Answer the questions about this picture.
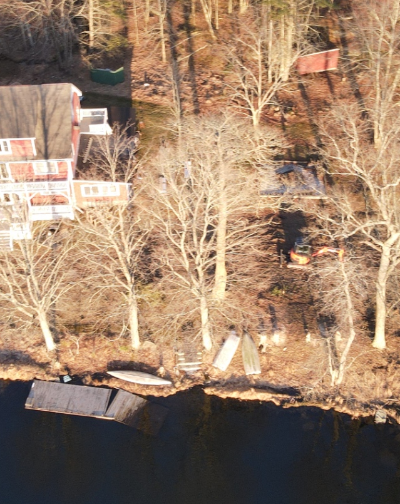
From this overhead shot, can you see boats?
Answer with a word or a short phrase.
Yes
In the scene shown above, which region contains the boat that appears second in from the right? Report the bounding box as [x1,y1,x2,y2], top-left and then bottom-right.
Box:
[212,332,241,371]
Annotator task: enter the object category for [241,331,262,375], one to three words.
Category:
boat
